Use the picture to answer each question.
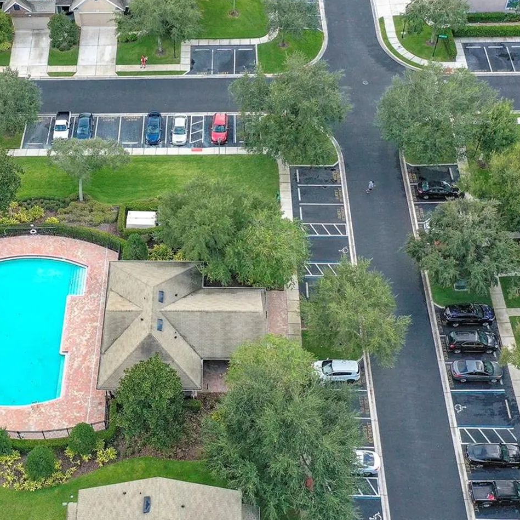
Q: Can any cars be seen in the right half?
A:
Yes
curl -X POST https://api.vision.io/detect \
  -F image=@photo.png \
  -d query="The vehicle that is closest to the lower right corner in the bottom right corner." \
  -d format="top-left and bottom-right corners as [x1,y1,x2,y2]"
[462,480,520,510]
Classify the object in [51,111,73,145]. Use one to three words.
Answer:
truck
